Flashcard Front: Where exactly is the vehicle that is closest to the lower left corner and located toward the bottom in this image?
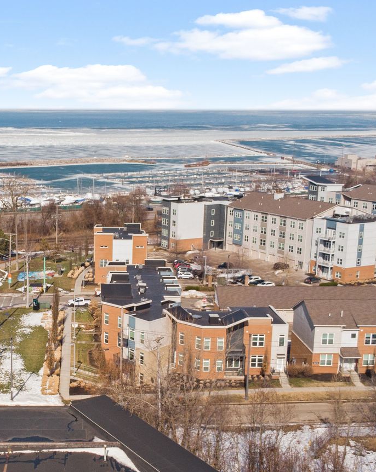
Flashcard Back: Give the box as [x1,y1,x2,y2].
[65,296,93,308]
